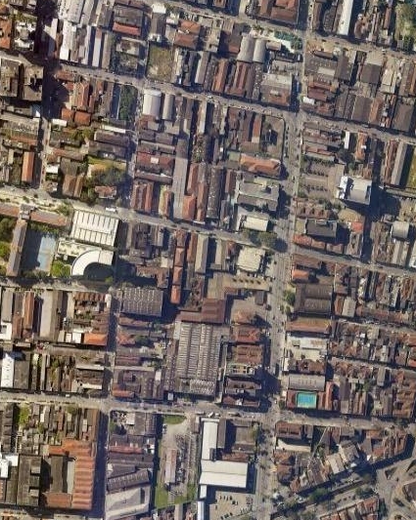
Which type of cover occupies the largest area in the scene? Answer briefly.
buildings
